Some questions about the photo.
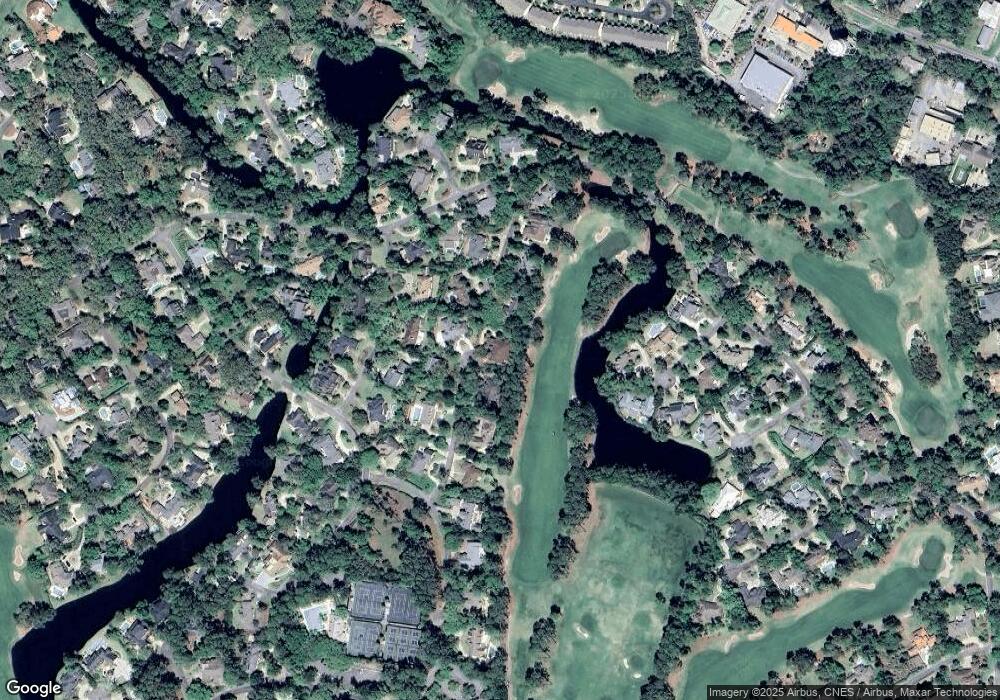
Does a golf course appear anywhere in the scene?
Yes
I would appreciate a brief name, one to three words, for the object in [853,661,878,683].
house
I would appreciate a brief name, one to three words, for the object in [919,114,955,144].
shed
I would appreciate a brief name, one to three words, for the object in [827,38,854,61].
water tower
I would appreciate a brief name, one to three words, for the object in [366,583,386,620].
tennis court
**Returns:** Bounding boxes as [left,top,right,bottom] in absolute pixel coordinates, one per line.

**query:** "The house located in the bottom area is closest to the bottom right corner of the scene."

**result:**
[948,669,977,685]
